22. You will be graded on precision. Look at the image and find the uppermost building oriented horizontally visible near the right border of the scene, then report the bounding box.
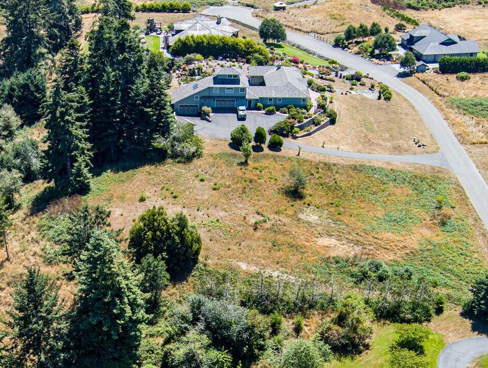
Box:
[370,25,481,60]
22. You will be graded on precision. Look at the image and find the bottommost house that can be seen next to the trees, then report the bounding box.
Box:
[167,67,310,114]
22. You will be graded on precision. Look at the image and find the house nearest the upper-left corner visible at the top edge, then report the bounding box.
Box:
[153,8,240,45]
